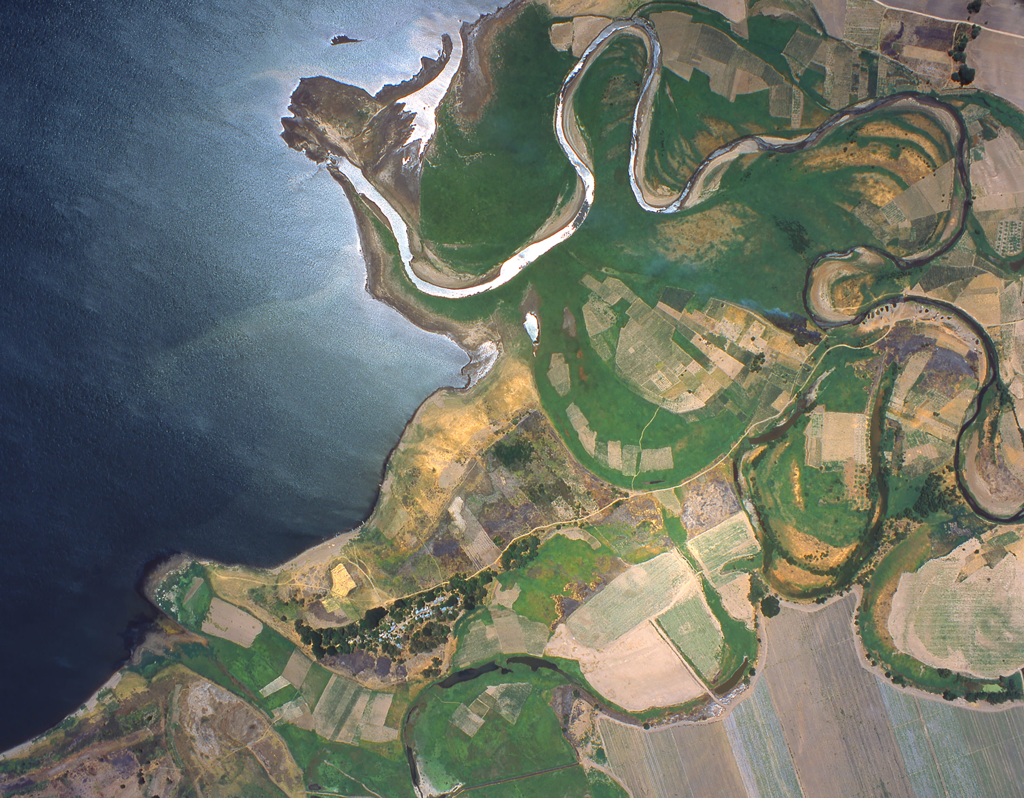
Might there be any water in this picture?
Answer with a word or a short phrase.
Yes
